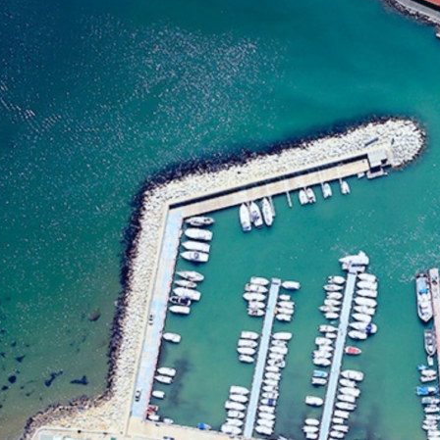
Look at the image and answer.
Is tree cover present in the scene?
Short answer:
No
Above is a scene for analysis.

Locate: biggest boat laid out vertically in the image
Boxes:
[416,274,431,323]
